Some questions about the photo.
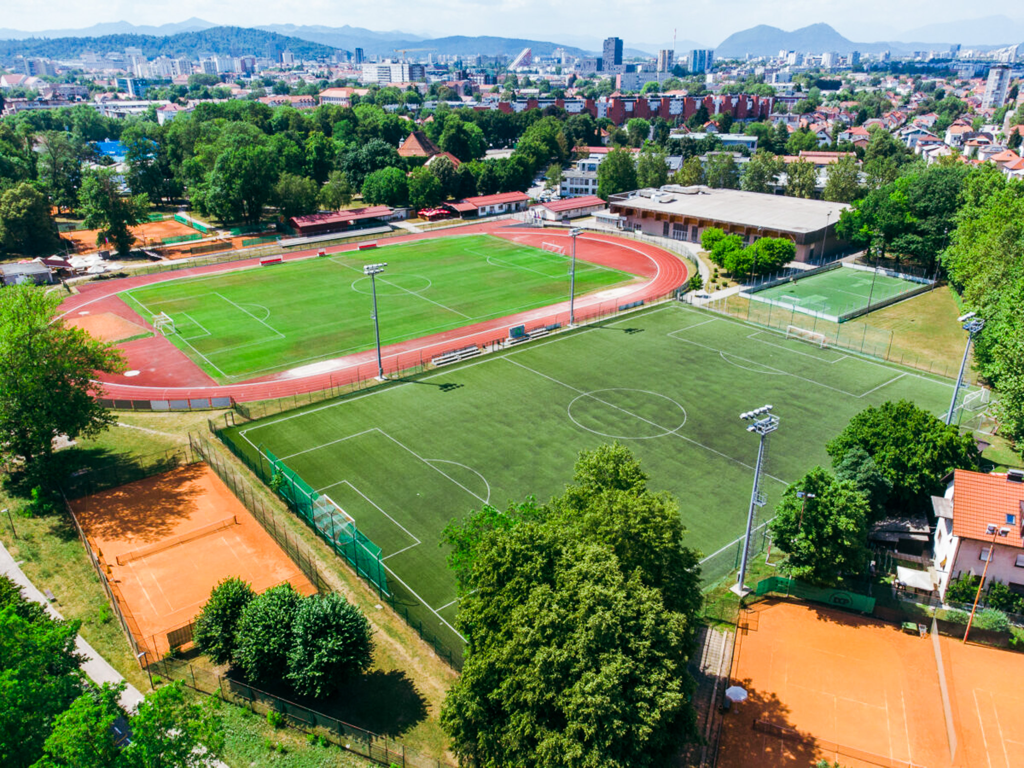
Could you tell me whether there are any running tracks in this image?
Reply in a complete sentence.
Yes, I can see a running track in this picture.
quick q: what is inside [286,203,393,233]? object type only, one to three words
shed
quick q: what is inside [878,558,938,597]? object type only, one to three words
gazebo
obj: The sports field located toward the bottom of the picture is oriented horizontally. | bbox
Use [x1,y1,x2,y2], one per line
[217,300,1005,659]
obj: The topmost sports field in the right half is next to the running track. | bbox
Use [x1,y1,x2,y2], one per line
[748,266,925,317]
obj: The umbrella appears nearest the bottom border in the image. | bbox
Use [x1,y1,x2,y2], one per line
[725,683,753,714]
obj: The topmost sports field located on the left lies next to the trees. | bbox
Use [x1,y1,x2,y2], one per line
[104,233,647,388]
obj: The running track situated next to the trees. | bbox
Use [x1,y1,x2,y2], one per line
[4,228,686,413]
